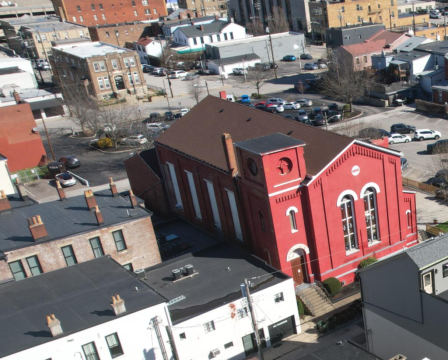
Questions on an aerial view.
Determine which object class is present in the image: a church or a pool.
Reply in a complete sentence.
The image shows a church.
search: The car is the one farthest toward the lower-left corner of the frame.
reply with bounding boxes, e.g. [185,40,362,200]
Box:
[54,172,79,188]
